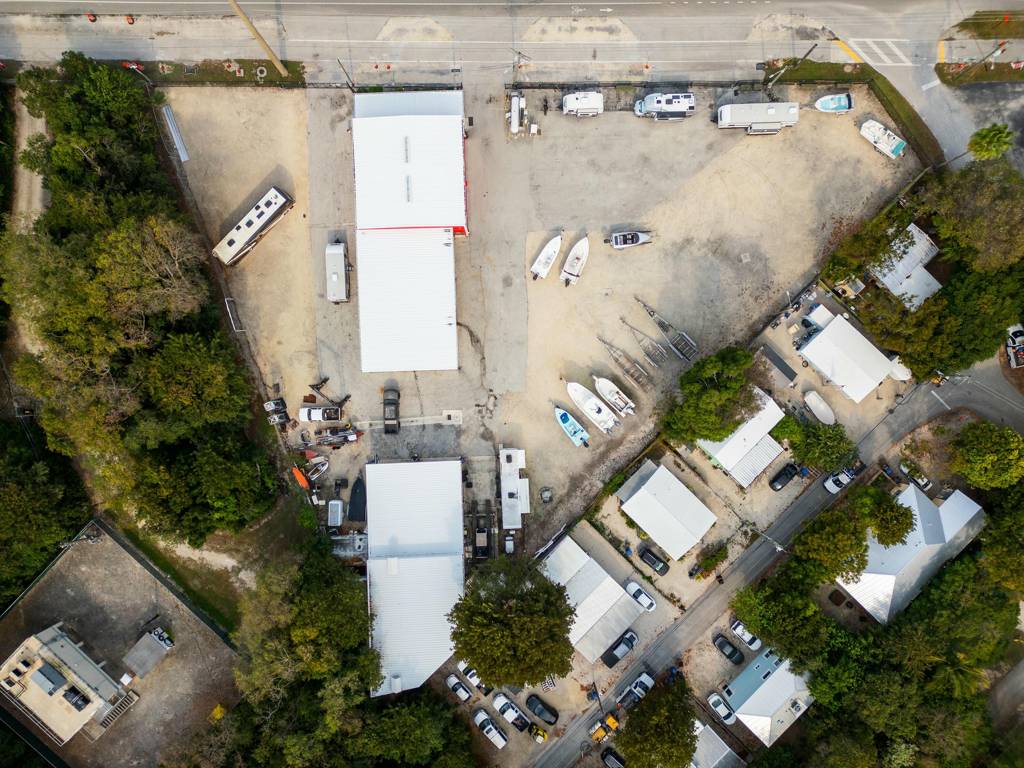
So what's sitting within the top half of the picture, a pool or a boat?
boat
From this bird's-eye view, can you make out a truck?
Yes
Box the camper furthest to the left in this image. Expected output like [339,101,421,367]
[214,184,295,269]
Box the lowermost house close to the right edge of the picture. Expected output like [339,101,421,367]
[842,483,986,625]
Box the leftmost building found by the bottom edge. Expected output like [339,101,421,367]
[0,612,141,746]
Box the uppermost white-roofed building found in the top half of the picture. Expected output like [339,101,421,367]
[351,89,472,238]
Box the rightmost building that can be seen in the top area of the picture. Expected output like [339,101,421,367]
[861,223,941,312]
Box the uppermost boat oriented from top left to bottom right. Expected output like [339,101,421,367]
[860,122,905,159]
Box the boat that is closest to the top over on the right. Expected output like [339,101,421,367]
[813,94,856,112]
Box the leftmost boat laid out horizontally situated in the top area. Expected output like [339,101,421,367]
[606,231,651,248]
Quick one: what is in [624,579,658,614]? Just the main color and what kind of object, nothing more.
white car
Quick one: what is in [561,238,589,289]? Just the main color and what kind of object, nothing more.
white boat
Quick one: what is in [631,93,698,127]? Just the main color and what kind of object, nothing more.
white camper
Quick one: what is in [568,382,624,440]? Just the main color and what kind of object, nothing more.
white boat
